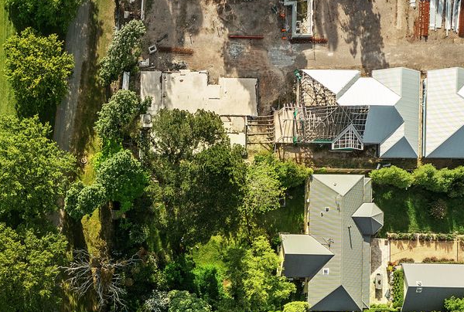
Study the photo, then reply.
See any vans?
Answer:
No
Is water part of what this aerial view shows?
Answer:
No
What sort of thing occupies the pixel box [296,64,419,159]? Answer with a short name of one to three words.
house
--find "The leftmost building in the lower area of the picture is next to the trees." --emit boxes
[278,174,394,312]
